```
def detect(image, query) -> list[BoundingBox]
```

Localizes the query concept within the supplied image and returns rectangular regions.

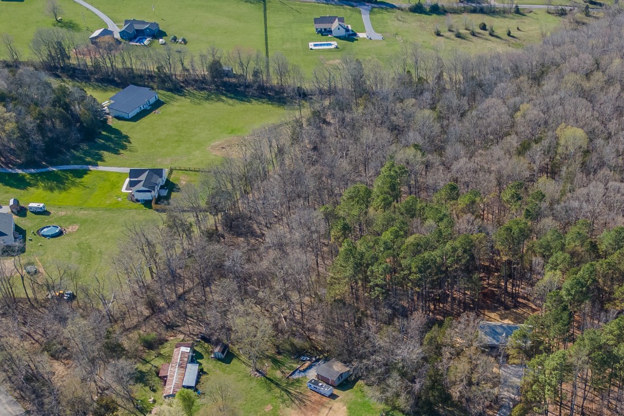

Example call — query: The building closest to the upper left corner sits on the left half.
[89,26,122,45]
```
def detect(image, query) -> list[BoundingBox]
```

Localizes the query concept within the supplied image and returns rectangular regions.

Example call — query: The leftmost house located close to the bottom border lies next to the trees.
[155,343,199,399]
